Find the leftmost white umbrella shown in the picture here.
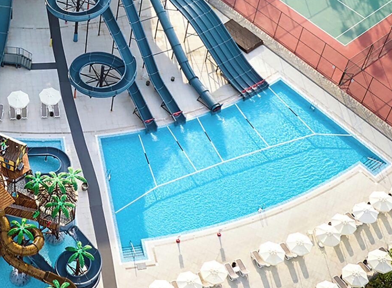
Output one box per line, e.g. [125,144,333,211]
[7,94,30,116]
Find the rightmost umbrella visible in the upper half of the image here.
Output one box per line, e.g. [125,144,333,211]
[40,90,61,114]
